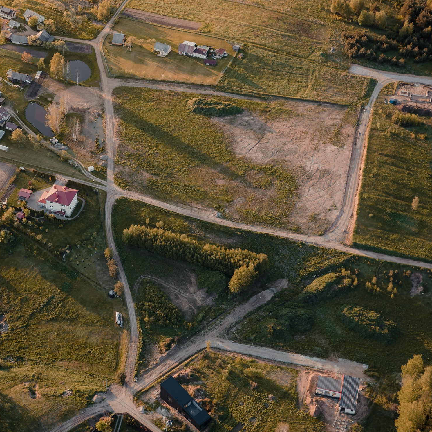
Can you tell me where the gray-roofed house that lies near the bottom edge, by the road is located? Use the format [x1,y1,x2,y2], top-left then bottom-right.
[318,375,361,416]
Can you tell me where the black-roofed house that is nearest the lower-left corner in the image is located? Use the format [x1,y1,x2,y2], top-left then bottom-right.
[160,376,211,431]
